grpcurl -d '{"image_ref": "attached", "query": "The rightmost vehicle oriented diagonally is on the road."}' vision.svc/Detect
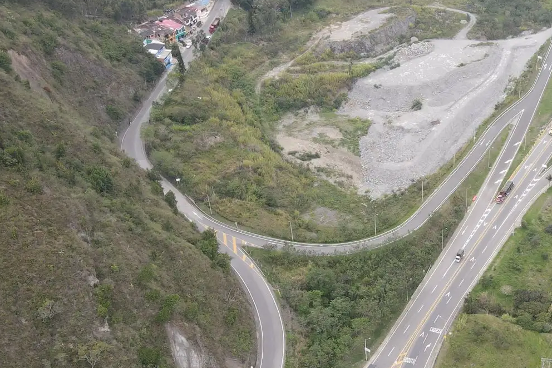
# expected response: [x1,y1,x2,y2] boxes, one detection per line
[496,179,513,203]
